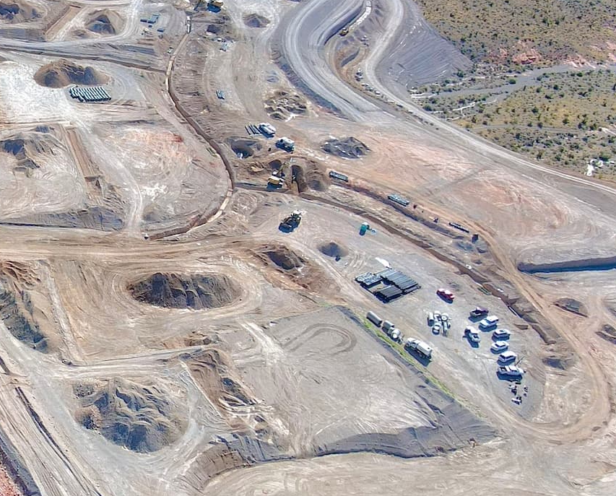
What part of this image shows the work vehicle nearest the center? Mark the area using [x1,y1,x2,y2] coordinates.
[274,202,301,231]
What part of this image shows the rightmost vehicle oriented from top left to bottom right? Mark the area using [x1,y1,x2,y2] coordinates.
[463,327,484,345]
